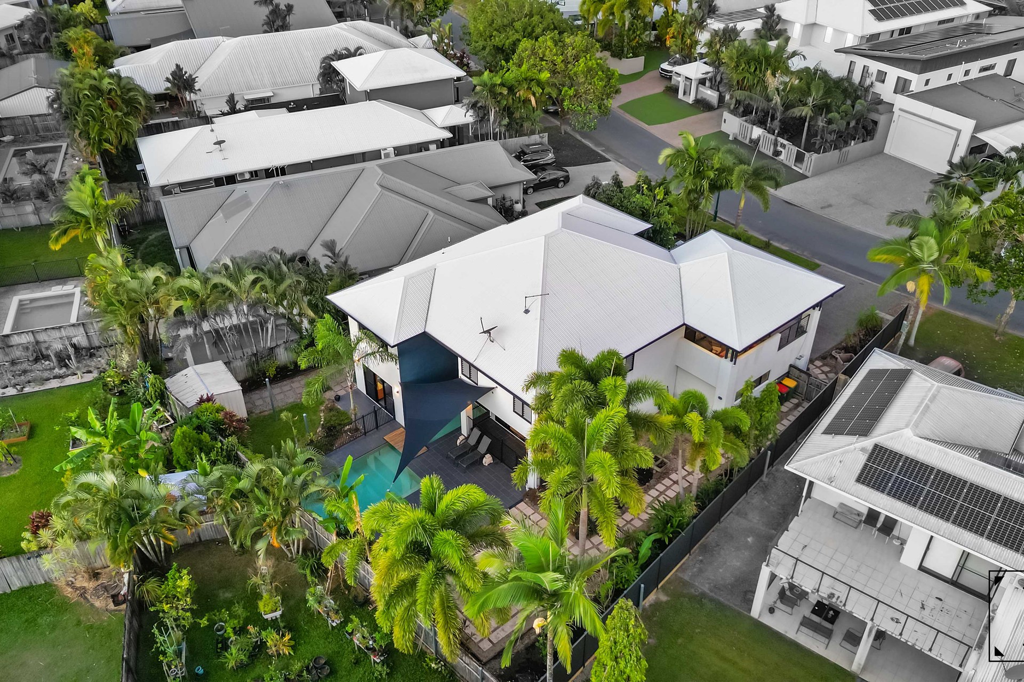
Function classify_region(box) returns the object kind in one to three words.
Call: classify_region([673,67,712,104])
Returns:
building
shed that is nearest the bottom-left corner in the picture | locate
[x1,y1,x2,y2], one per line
[168,359,246,427]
